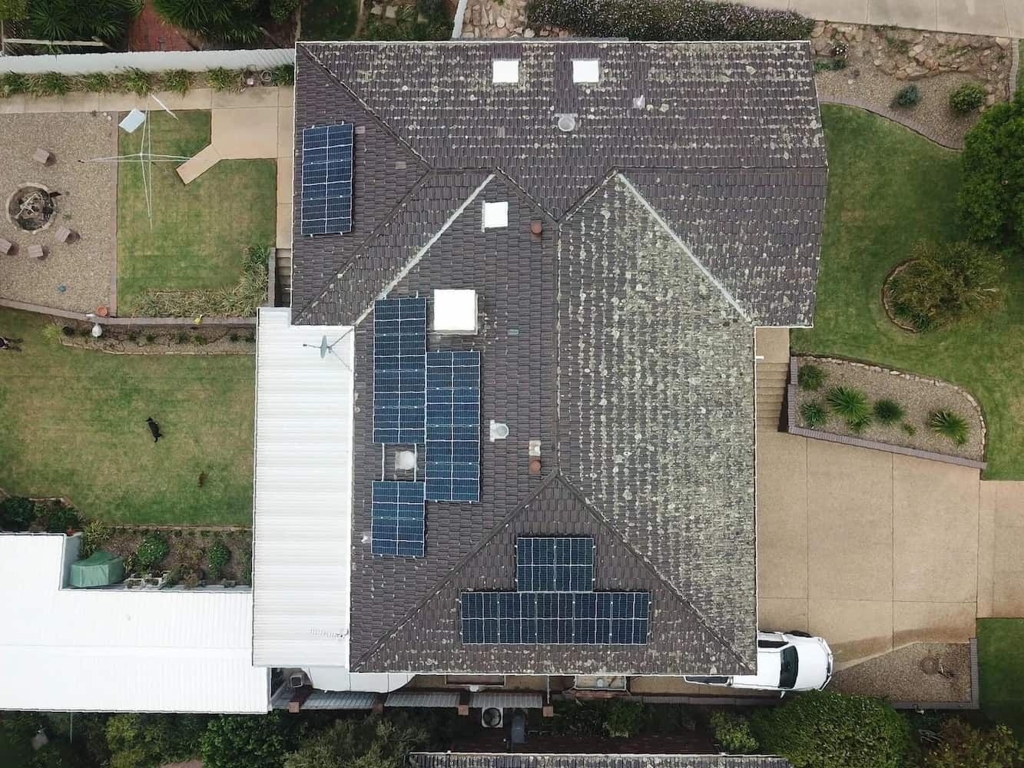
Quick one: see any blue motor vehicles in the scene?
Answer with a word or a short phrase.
No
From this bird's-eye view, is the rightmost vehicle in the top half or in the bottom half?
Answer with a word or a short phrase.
bottom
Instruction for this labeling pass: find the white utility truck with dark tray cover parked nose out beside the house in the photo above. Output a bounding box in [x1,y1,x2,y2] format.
[673,627,832,698]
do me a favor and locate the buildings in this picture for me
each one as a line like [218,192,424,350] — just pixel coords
[289,36,828,678]
[0,532,279,715]
[409,739,792,768]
